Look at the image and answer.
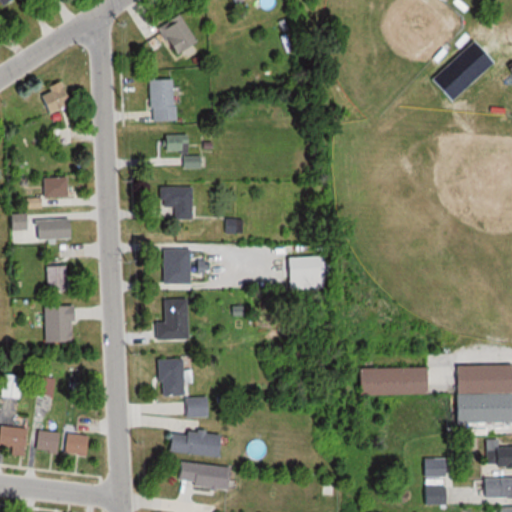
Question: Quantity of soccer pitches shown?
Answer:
zero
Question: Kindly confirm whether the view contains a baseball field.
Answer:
Yes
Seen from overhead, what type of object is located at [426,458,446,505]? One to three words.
building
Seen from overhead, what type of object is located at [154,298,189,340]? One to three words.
house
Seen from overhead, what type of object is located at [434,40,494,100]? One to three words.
barn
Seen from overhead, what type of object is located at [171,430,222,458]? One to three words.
house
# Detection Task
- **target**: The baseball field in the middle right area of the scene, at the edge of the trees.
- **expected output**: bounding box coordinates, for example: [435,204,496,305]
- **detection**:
[334,108,512,340]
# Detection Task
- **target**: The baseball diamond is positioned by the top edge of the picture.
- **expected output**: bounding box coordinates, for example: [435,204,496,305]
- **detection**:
[332,0,469,117]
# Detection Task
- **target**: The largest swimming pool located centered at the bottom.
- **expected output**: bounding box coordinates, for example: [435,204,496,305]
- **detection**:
[246,440,268,460]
